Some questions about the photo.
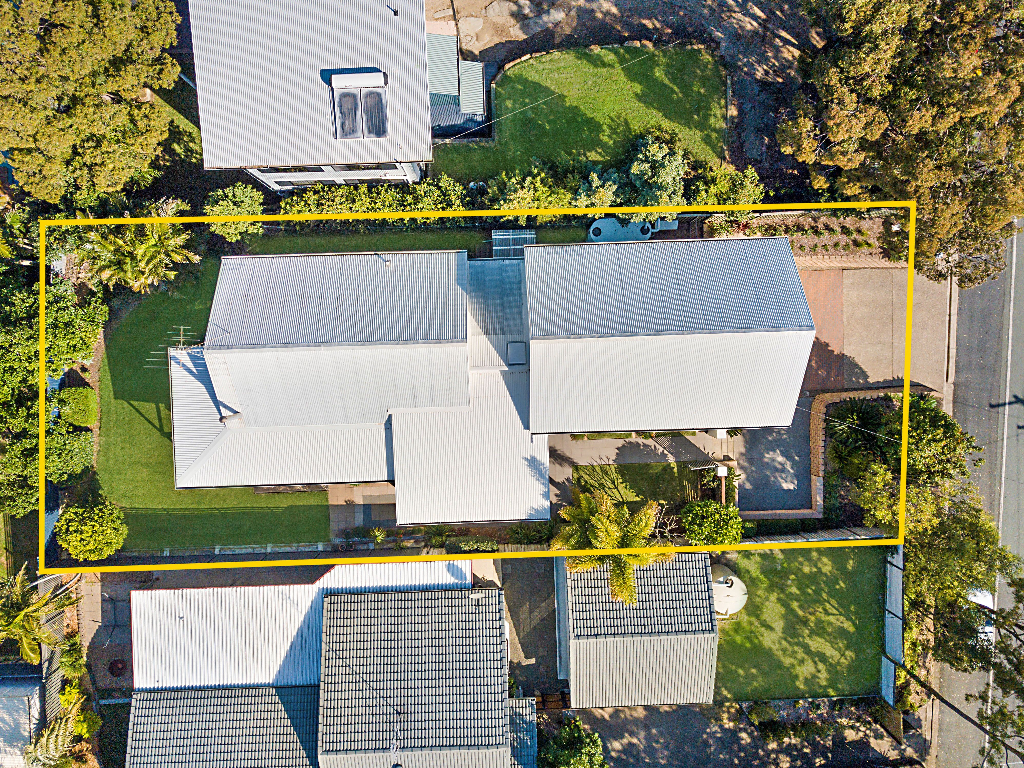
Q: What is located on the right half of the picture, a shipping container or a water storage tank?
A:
water storage tank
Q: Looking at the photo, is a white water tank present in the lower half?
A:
Yes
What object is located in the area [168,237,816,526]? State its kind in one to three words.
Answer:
house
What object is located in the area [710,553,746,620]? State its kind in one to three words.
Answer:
water tank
